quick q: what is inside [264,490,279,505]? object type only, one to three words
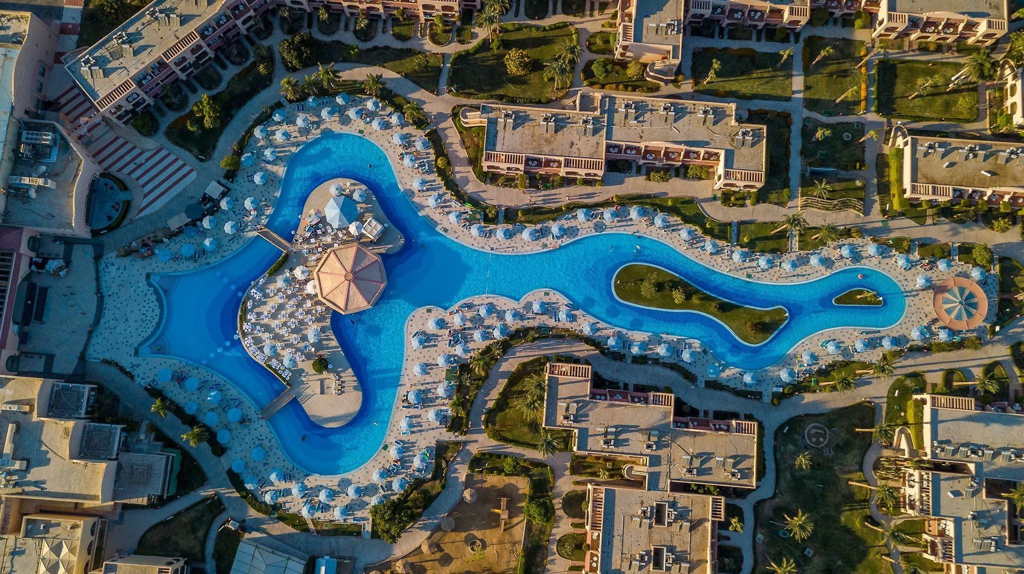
umbrella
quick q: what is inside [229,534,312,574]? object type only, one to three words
tent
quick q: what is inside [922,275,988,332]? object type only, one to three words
gazebo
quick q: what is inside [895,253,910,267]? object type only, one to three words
umbrella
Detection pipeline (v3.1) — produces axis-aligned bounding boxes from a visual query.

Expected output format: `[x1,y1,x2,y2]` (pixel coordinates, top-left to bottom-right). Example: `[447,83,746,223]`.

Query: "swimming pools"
[136,129,909,479]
